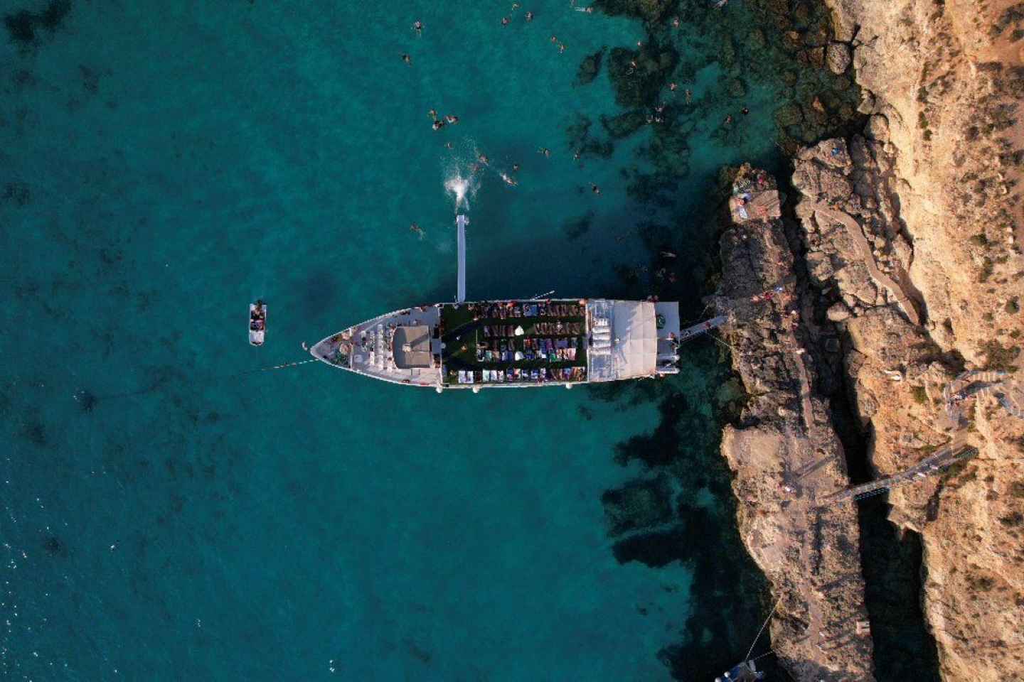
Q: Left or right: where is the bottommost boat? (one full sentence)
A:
The bottommost boat appears in the right half of the scene.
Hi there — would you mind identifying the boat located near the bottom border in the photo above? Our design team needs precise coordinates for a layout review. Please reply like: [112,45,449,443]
[710,649,766,682]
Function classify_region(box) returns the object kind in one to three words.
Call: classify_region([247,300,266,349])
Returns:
boat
